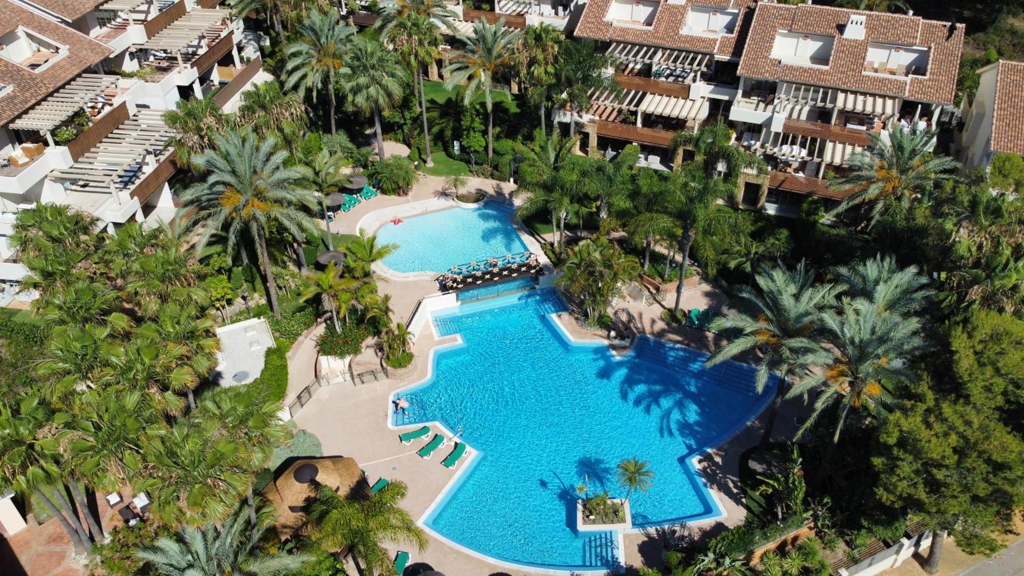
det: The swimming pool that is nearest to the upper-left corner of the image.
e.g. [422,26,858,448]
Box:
[376,199,536,303]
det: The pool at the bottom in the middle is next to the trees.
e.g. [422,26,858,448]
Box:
[391,288,783,567]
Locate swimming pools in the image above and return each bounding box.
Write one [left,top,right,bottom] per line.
[391,288,783,567]
[376,199,536,303]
